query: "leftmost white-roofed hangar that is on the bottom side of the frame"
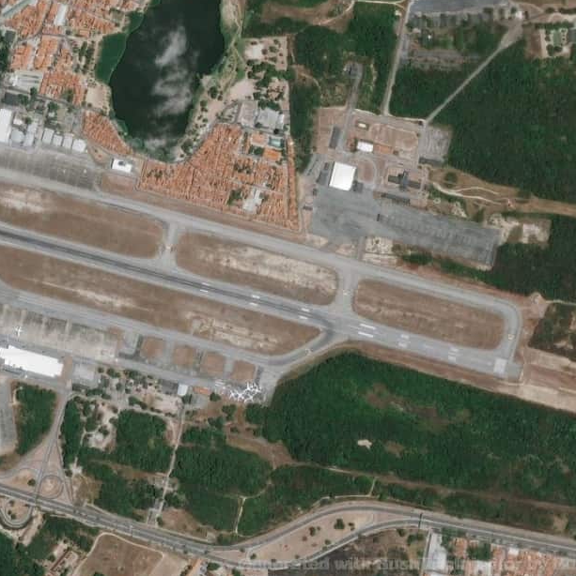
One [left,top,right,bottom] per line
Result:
[0,346,64,379]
